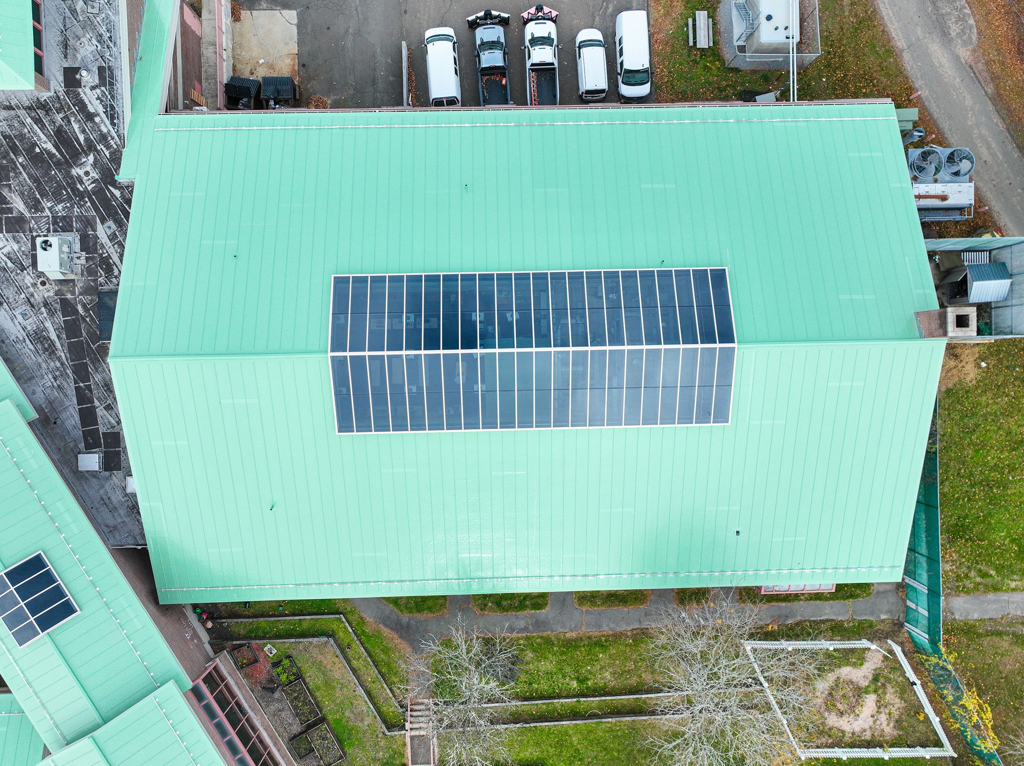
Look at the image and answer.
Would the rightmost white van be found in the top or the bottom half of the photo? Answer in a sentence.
Seen from above, the rightmost white van lies in the top half of the view.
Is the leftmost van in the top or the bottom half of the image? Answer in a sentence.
The leftmost van sits in the top half of the picture.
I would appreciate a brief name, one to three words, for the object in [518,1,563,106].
truck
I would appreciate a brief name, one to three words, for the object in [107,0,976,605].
building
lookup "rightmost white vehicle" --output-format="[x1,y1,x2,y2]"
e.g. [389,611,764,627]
[615,10,656,105]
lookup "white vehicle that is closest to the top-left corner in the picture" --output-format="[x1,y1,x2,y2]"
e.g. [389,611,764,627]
[421,26,463,107]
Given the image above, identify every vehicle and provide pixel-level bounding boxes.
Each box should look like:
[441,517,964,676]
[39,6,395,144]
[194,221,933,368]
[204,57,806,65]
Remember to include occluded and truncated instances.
[615,10,656,105]
[421,26,463,107]
[467,6,513,107]
[573,29,610,103]
[518,1,563,106]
